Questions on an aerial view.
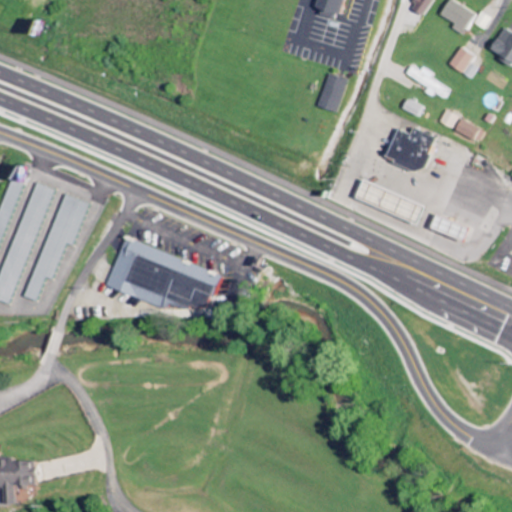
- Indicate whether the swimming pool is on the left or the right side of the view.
right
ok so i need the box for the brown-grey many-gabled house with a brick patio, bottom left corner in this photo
[0,456,36,502]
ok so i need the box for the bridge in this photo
[42,318,70,364]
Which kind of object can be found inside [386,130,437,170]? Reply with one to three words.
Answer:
building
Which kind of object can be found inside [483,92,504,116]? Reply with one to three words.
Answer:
swimming pool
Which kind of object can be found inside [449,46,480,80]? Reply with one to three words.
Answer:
house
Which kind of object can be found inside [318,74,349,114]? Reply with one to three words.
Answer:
shed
